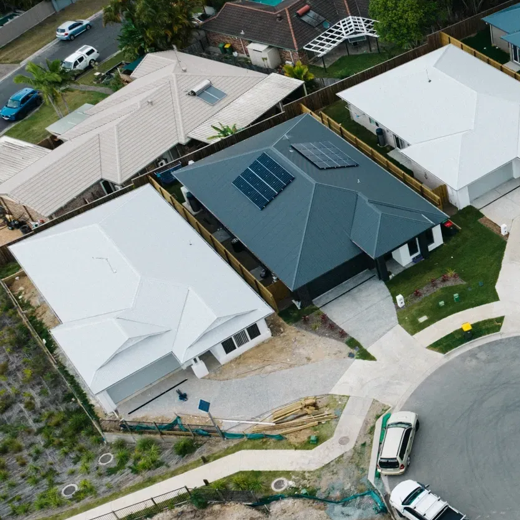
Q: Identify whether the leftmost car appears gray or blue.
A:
blue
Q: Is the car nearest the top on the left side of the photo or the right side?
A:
left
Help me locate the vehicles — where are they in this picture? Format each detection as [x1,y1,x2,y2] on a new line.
[56,43,103,74]
[390,478,467,520]
[377,415,418,477]
[55,20,93,40]
[0,89,46,120]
